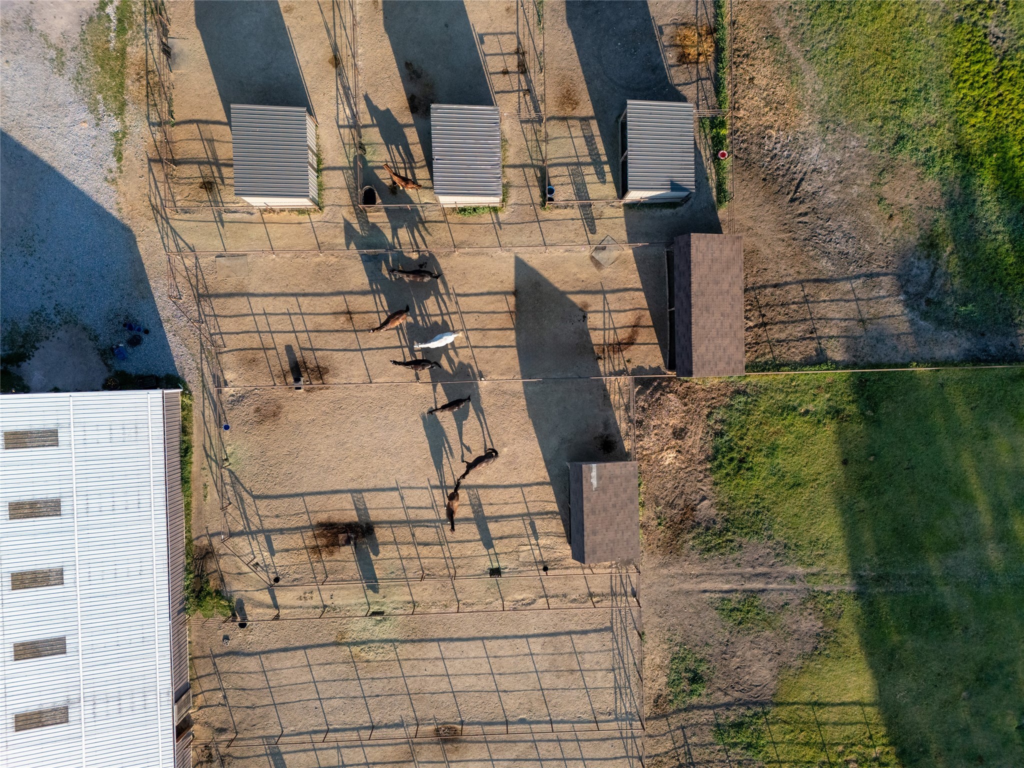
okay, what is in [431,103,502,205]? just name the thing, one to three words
shed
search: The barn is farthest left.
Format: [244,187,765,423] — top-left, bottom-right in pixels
[0,388,194,768]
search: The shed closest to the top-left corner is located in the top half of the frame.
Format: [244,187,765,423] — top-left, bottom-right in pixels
[230,103,318,206]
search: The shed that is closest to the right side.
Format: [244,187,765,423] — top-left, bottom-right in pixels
[661,233,745,377]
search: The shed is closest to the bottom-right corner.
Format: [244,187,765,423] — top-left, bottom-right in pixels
[562,457,640,564]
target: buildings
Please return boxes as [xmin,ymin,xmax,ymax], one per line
[230,103,318,206]
[661,233,745,377]
[431,103,502,205]
[620,99,695,200]
[0,388,194,768]
[562,457,640,564]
